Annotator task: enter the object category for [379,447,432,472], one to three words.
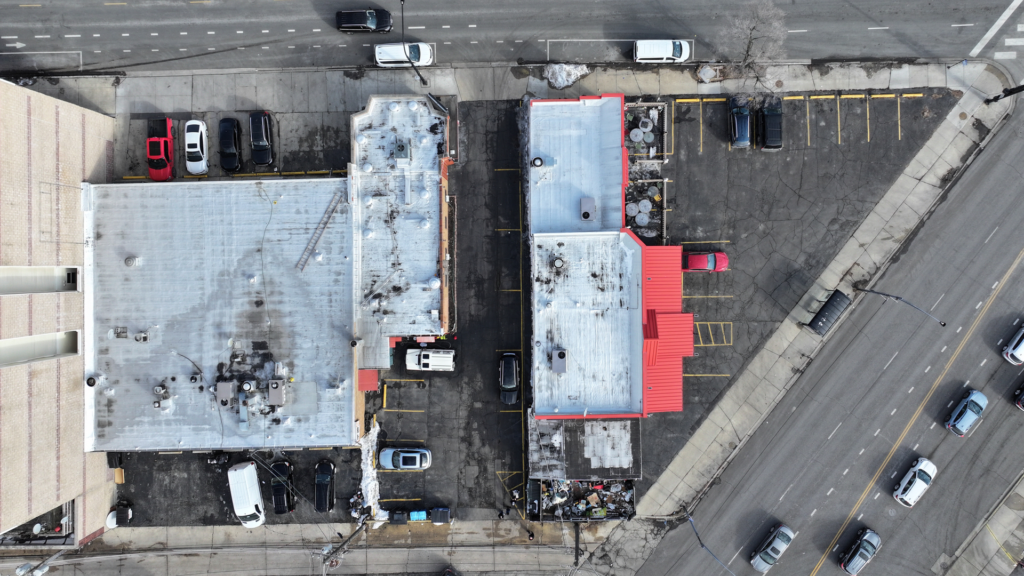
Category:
car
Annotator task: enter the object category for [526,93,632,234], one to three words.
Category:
building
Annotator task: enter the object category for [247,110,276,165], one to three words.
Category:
car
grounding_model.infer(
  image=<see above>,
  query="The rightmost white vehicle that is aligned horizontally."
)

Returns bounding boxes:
[634,38,689,65]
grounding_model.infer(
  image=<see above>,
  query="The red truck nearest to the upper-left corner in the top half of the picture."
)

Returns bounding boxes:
[145,117,177,182]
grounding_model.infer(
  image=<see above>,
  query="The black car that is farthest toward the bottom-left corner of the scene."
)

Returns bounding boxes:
[268,460,296,513]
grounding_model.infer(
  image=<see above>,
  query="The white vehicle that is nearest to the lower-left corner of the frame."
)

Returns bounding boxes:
[228,459,265,526]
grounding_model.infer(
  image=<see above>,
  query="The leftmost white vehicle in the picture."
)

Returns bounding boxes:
[182,120,210,175]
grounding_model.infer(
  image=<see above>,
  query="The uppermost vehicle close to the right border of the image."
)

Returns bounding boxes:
[996,317,1024,366]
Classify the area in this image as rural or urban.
urban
